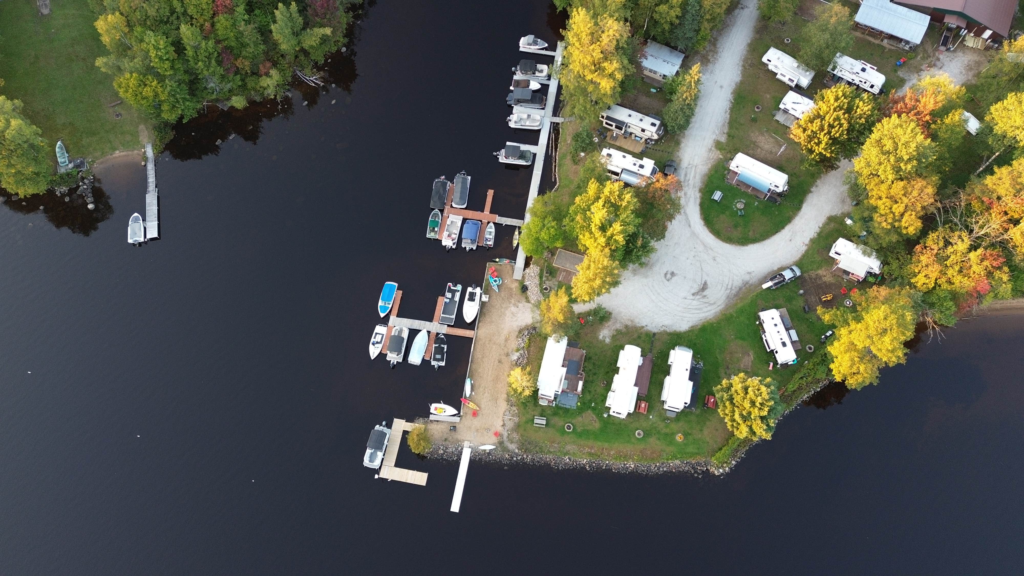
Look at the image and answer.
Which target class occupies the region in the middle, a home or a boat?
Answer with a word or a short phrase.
boat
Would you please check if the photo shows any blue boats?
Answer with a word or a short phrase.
Yes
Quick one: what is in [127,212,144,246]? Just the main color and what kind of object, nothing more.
white boat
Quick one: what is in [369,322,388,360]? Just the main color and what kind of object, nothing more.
white boat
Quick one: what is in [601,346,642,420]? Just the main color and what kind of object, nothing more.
white vehicle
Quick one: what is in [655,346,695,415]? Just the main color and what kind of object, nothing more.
white vehicle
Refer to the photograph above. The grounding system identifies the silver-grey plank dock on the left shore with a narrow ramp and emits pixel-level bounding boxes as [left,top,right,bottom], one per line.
[145,145,161,240]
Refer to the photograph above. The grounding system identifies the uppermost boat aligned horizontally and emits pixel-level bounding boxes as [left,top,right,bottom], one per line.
[517,36,548,50]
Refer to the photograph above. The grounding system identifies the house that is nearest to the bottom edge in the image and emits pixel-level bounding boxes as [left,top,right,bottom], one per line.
[644,42,685,82]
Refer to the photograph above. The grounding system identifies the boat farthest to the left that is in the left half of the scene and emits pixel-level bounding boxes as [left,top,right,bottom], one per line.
[55,141,68,167]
